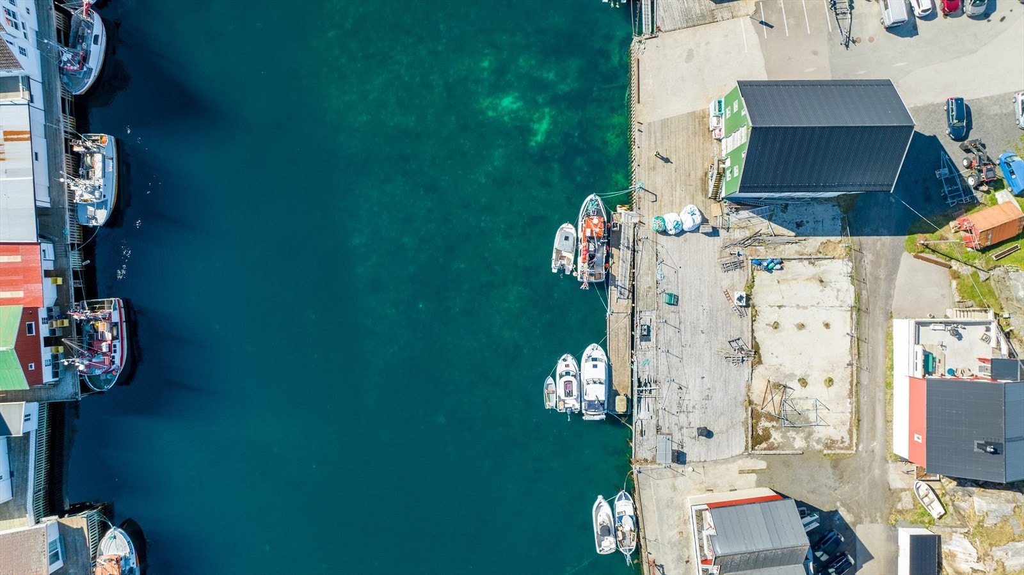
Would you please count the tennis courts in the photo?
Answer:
zero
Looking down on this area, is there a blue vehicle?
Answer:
Yes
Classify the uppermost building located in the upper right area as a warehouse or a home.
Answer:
warehouse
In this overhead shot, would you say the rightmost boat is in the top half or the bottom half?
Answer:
bottom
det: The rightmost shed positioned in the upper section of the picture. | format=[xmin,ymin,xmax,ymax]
[959,199,1024,248]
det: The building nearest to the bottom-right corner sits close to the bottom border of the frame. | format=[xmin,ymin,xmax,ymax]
[898,528,938,575]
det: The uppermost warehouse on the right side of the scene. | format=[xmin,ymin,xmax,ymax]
[707,78,915,201]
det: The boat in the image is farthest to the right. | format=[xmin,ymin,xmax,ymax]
[915,482,945,519]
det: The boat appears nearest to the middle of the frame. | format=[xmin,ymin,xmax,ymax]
[552,224,578,276]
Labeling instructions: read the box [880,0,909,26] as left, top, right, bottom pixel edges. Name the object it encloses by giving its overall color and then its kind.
white vehicle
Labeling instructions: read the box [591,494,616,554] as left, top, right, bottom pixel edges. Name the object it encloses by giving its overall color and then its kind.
white boat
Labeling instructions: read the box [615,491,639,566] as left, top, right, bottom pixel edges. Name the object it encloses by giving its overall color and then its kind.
white boat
